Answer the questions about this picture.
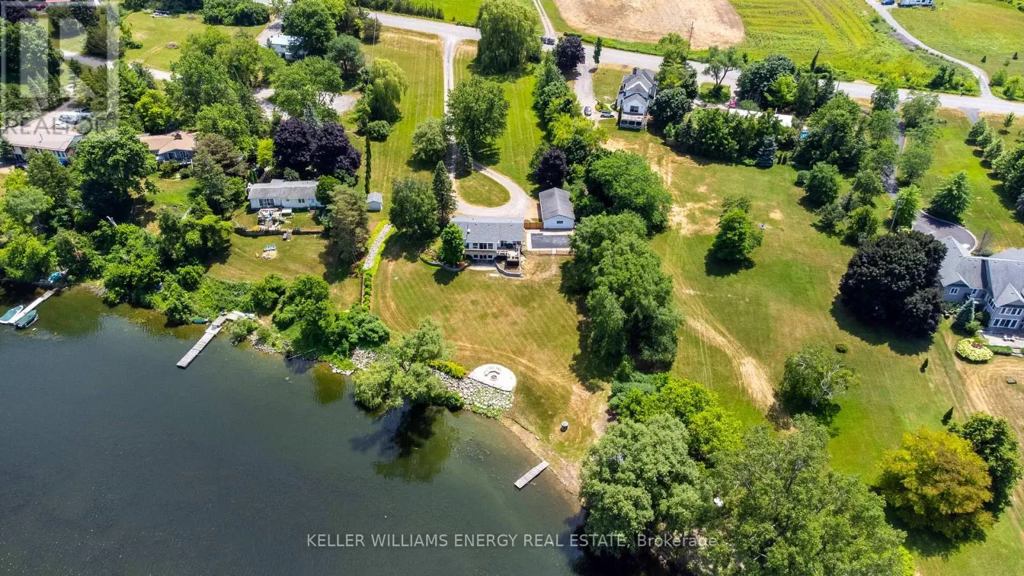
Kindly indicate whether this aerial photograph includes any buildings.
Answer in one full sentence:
Yes, there is a building in the image.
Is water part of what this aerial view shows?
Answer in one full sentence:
Yes, water shows up in the scene.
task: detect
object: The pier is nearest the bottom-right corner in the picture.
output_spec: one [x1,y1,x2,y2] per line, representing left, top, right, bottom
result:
[515,462,549,489]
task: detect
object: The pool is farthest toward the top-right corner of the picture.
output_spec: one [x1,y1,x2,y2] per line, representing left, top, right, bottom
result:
[531,234,576,248]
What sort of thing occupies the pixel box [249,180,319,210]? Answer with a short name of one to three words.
house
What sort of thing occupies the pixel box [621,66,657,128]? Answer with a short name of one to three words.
house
